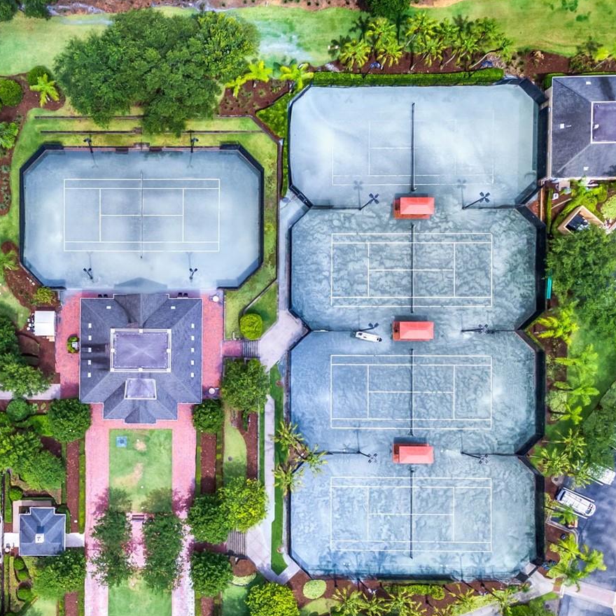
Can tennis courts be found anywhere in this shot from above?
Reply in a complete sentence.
Yes, you can see a tennis court in this photo.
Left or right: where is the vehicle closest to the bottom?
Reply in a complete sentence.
The vehicle closest to the bottom appears in the right half of the scene.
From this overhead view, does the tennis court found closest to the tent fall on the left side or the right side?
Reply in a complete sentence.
The tennis court found closest to the tent is on the left side of the image.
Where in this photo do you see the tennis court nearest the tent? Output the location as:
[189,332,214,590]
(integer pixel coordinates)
[21,146,261,291]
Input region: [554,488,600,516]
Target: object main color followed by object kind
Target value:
white vehicle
